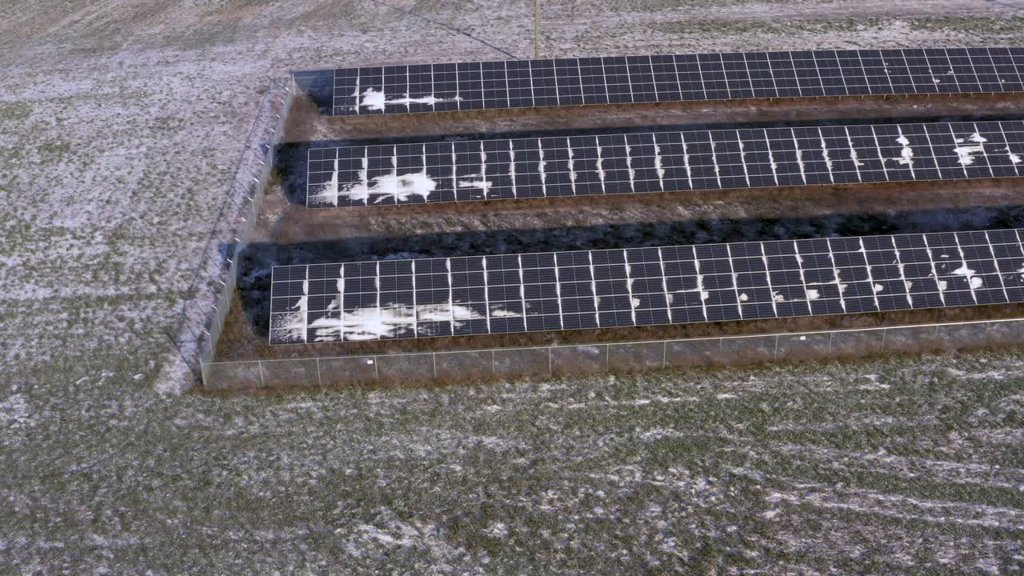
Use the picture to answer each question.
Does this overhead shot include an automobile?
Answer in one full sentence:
No, there is no automobile in the image.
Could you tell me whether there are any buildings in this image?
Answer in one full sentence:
No, there appears to be no building in this shot.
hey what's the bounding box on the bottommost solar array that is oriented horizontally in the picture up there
[268,229,1024,346]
